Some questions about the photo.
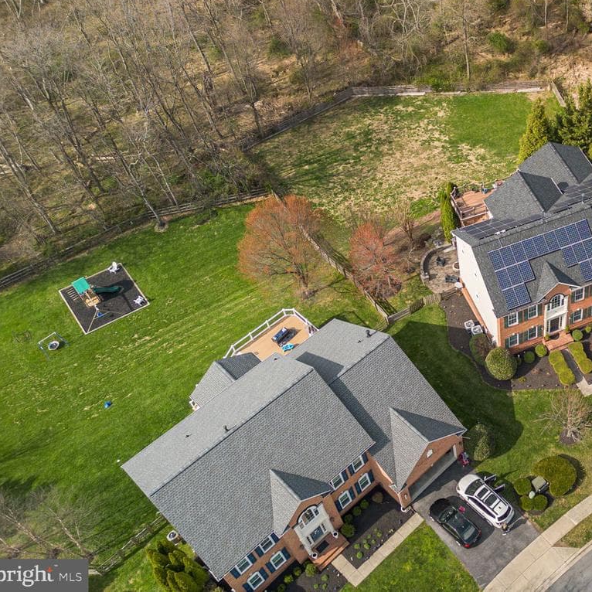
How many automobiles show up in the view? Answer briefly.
2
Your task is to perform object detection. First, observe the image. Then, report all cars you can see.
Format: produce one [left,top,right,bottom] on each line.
[453,473,514,530]
[423,495,483,555]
